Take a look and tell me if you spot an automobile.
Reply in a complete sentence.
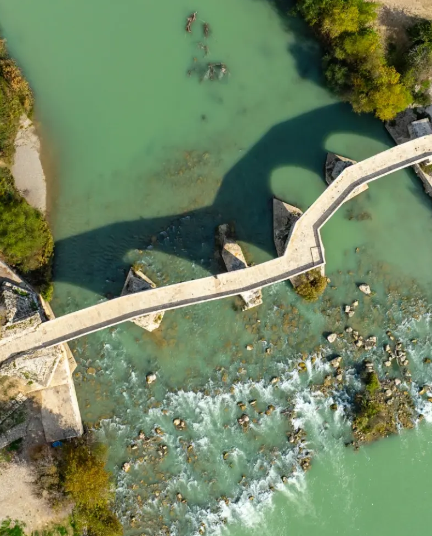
No, no automobile can be seen from above.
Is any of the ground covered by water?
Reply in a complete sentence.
Yes, there's water in this view.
